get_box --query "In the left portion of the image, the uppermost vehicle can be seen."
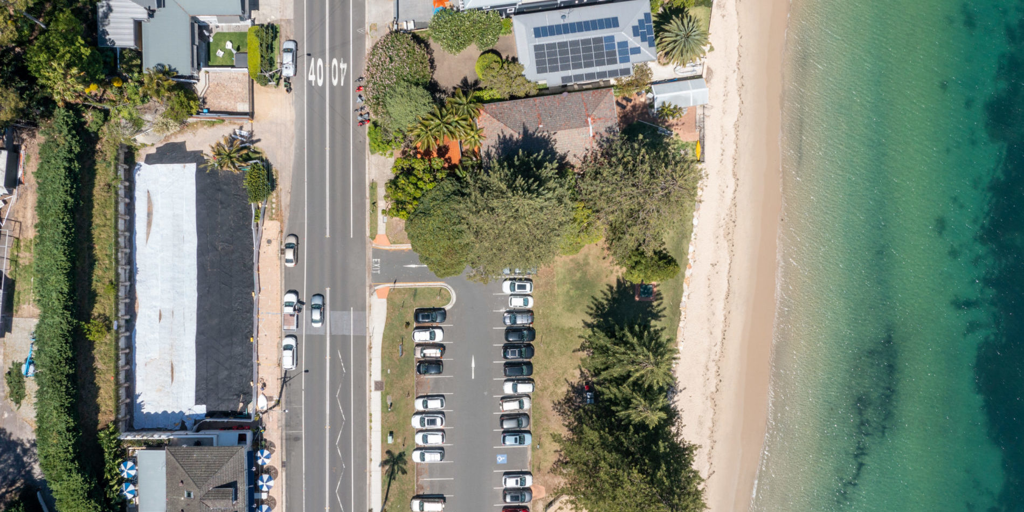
[280,40,297,77]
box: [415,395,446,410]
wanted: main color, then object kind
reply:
white car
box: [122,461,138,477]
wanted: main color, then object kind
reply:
white umbrella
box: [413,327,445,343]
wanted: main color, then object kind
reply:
white car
